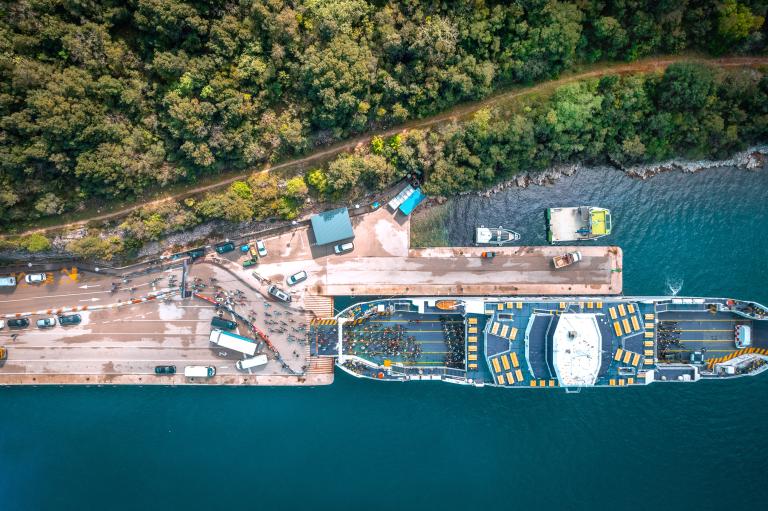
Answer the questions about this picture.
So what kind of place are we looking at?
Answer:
port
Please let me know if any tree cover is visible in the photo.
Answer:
Yes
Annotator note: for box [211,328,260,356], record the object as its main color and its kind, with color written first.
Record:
white truck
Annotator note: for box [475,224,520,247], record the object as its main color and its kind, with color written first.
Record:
white boat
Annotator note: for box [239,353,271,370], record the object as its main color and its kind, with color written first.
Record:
white vehicle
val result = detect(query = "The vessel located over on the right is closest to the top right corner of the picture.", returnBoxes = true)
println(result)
[548,207,612,243]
